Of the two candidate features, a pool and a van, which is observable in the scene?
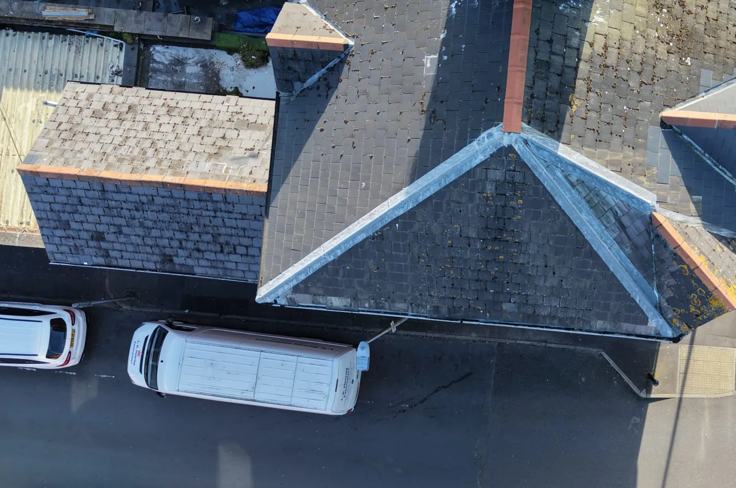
van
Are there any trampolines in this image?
No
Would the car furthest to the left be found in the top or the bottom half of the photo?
bottom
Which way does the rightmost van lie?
from left to right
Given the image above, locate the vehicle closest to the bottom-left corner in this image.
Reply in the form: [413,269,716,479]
[0,293,89,368]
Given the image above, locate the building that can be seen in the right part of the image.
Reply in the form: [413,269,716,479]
[254,0,736,346]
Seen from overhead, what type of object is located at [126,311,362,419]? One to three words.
van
